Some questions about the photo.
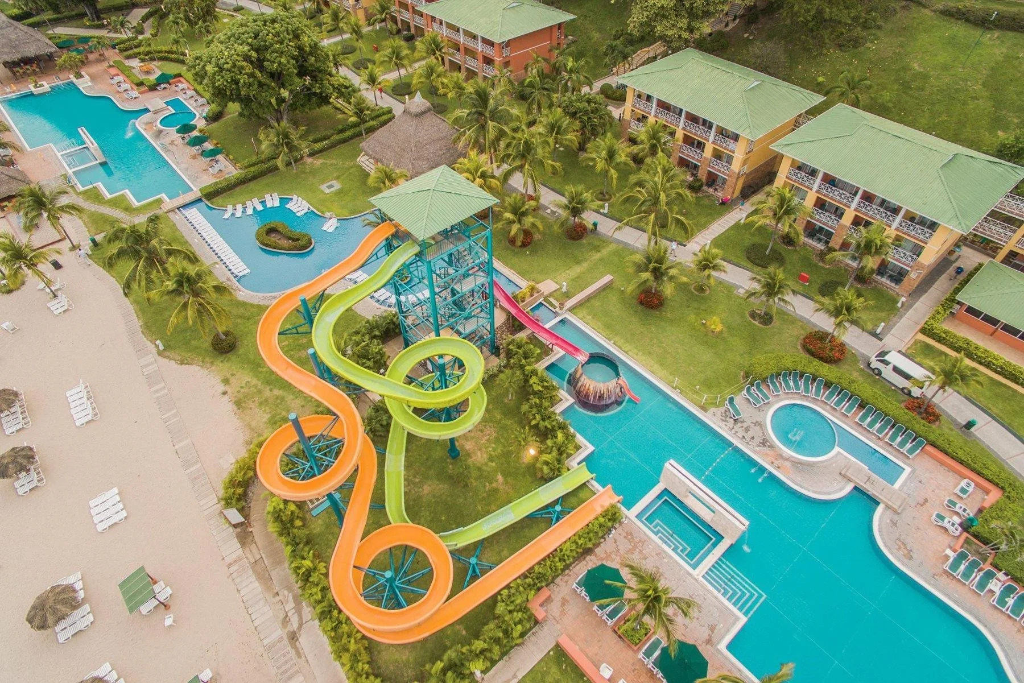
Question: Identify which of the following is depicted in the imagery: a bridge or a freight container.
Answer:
bridge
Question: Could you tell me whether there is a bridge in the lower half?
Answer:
Yes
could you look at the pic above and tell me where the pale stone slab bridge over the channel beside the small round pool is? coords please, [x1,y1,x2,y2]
[842,465,908,511]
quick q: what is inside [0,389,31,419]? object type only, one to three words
umbrella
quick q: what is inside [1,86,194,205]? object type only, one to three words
swimming pool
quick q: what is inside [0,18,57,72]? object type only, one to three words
building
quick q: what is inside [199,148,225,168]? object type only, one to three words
umbrella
